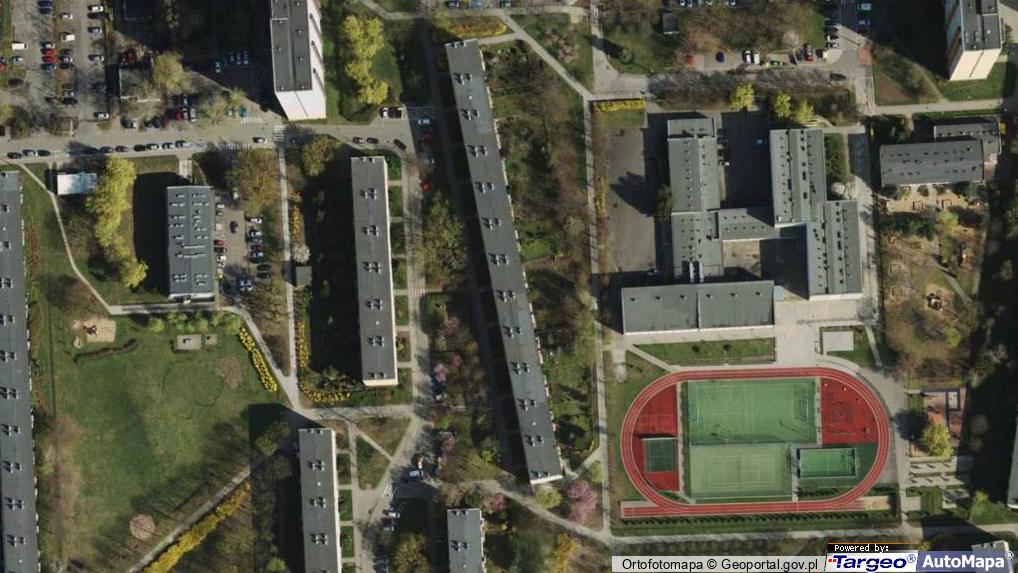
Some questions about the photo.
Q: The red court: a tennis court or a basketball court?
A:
basketball court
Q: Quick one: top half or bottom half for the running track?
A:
bottom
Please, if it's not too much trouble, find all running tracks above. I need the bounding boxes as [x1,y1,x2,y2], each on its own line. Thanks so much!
[620,368,889,521]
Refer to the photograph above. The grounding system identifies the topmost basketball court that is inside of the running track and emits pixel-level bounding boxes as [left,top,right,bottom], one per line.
[821,379,877,444]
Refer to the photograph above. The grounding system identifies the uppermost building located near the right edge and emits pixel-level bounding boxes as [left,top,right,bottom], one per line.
[946,0,1001,86]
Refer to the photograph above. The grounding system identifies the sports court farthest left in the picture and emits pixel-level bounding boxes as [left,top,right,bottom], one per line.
[644,439,676,472]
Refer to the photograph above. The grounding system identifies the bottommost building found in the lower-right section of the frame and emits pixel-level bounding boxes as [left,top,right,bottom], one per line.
[966,542,1008,573]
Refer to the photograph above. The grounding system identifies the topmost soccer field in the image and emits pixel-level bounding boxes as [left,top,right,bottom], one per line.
[688,379,816,445]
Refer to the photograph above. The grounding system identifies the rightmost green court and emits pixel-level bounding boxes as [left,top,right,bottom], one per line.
[800,447,859,478]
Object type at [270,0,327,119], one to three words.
building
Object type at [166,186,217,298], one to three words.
building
